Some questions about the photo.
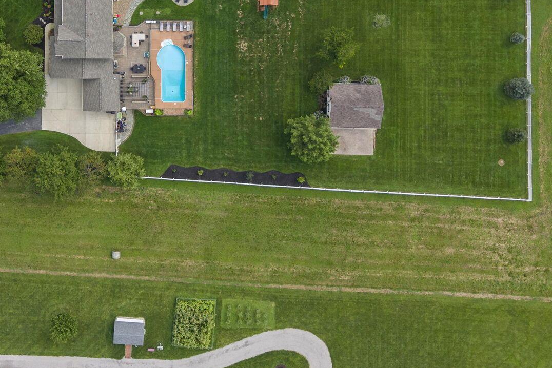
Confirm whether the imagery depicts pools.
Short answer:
Yes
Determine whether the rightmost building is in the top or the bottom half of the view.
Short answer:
top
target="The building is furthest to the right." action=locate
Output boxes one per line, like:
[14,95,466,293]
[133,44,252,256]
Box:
[327,83,384,129]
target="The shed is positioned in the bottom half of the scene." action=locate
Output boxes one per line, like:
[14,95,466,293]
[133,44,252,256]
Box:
[113,320,144,351]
